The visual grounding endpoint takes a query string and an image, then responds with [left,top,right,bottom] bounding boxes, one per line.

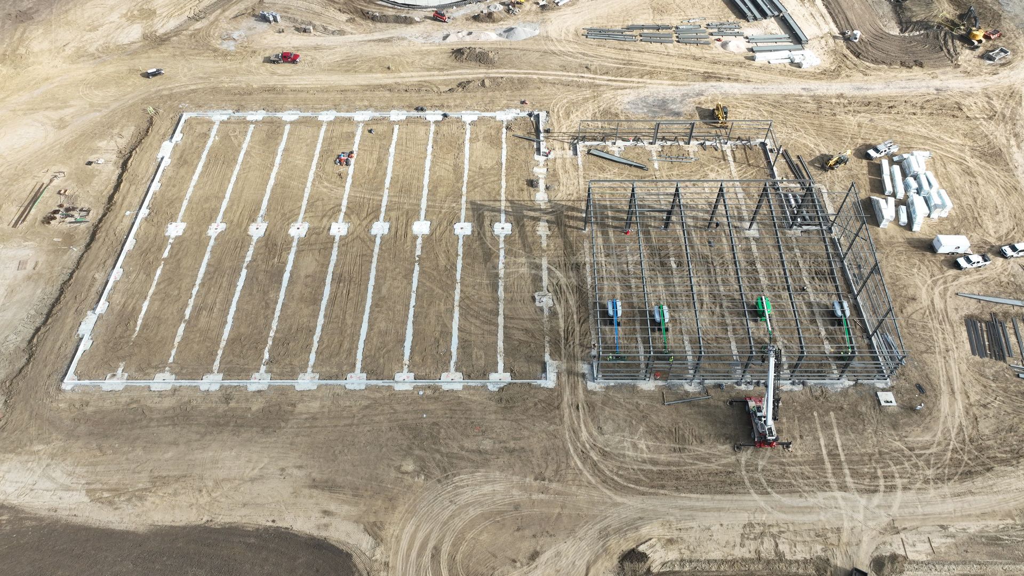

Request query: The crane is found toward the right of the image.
[726,350,793,454]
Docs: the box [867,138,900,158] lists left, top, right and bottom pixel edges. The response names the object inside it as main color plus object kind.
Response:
white vehicle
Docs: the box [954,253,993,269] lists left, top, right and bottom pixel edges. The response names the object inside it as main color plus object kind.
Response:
white vehicle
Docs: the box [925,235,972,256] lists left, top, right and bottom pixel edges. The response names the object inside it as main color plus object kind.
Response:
white trailer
